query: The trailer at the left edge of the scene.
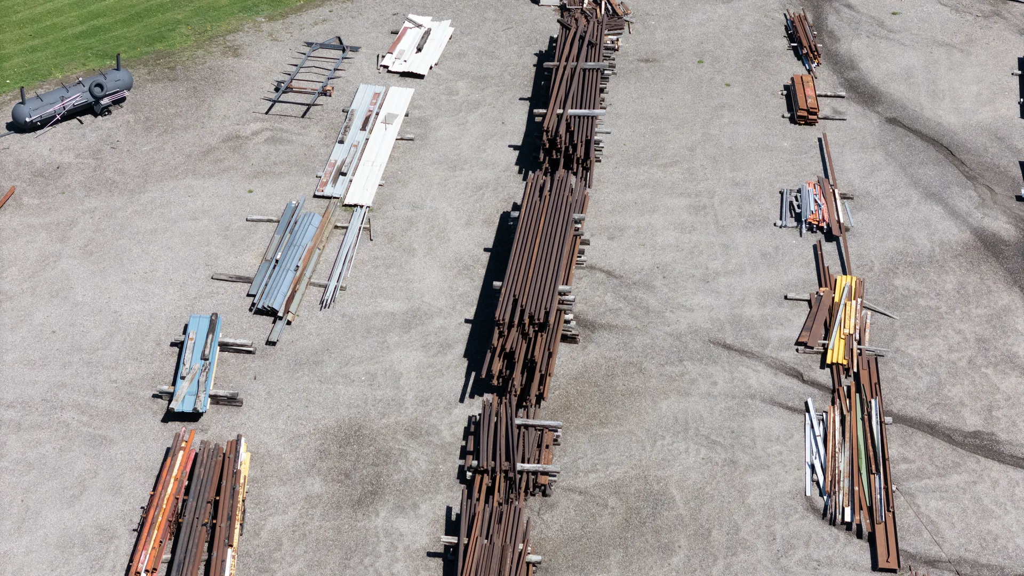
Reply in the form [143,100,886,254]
[0,54,132,137]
